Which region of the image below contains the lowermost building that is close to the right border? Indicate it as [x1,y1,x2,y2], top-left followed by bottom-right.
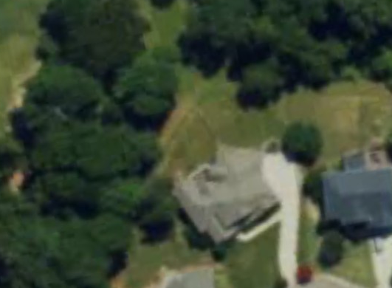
[323,167,392,234]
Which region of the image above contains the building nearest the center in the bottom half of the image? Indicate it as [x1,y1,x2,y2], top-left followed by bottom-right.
[172,145,282,242]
